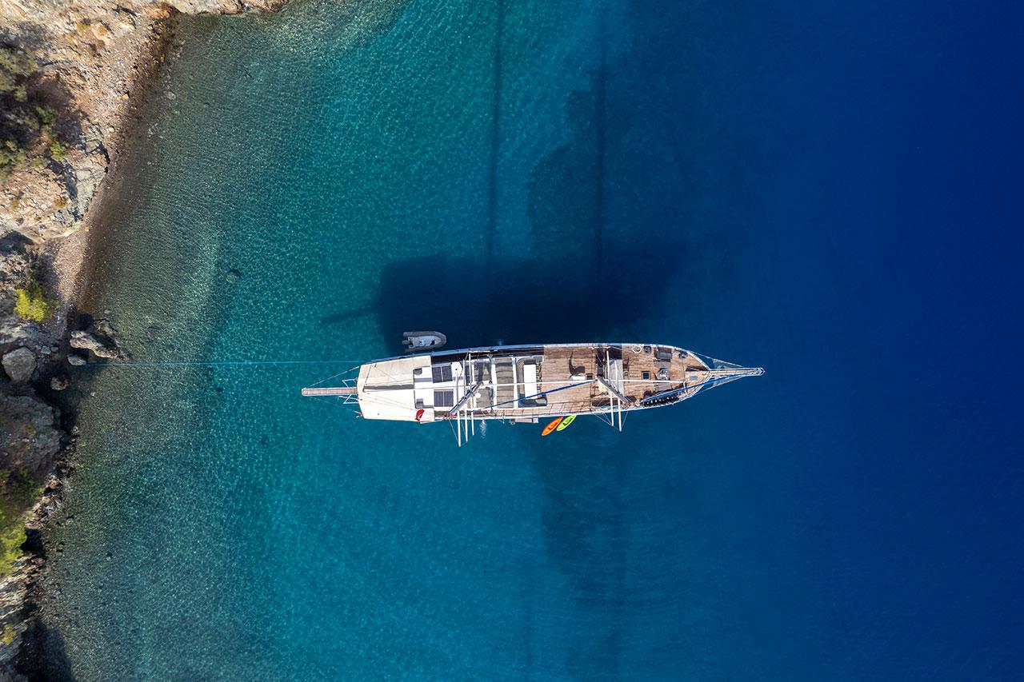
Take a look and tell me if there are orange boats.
Yes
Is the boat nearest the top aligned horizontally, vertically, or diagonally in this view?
horizontally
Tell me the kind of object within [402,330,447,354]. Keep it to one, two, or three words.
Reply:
boat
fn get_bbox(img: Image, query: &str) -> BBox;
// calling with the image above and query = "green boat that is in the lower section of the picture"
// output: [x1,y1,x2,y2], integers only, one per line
[557,416,576,431]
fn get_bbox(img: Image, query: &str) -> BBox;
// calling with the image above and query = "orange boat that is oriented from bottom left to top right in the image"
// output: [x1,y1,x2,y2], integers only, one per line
[542,417,563,435]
